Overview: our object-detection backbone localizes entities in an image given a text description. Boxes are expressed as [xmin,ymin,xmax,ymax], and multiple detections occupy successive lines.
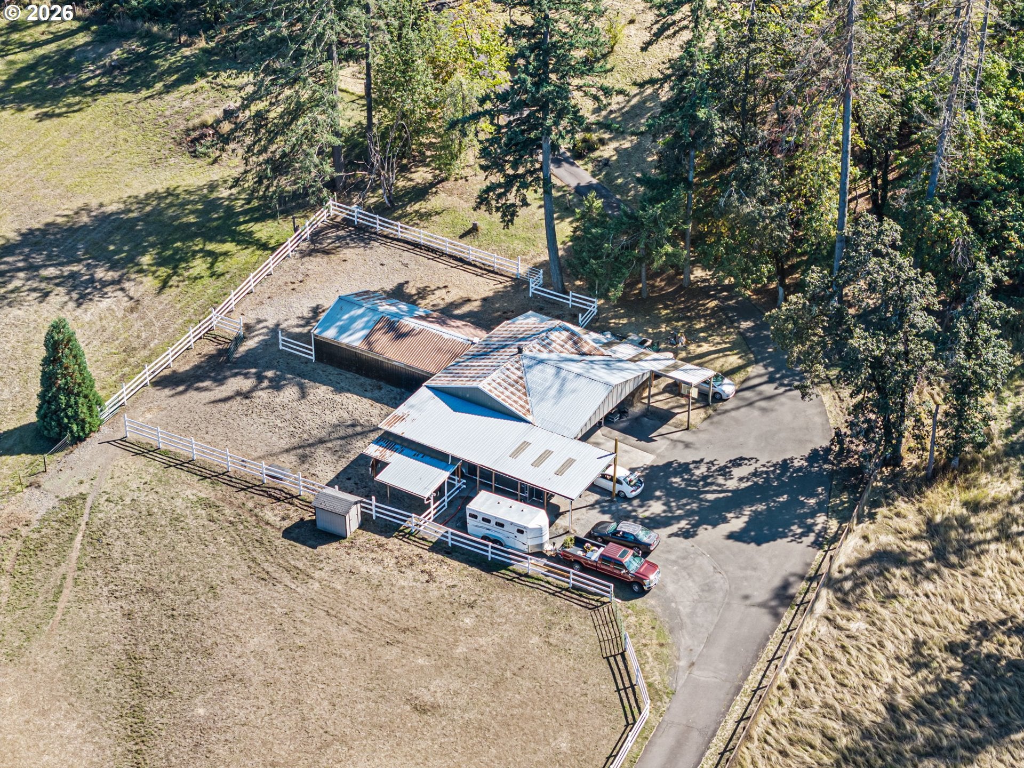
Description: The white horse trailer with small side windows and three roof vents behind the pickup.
[468,493,560,553]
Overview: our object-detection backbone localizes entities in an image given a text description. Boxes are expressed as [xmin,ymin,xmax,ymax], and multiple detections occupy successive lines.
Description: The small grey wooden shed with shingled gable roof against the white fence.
[311,489,367,540]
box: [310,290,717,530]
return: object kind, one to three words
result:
barn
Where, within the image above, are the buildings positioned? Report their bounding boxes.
[310,290,717,530]
[311,489,367,540]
